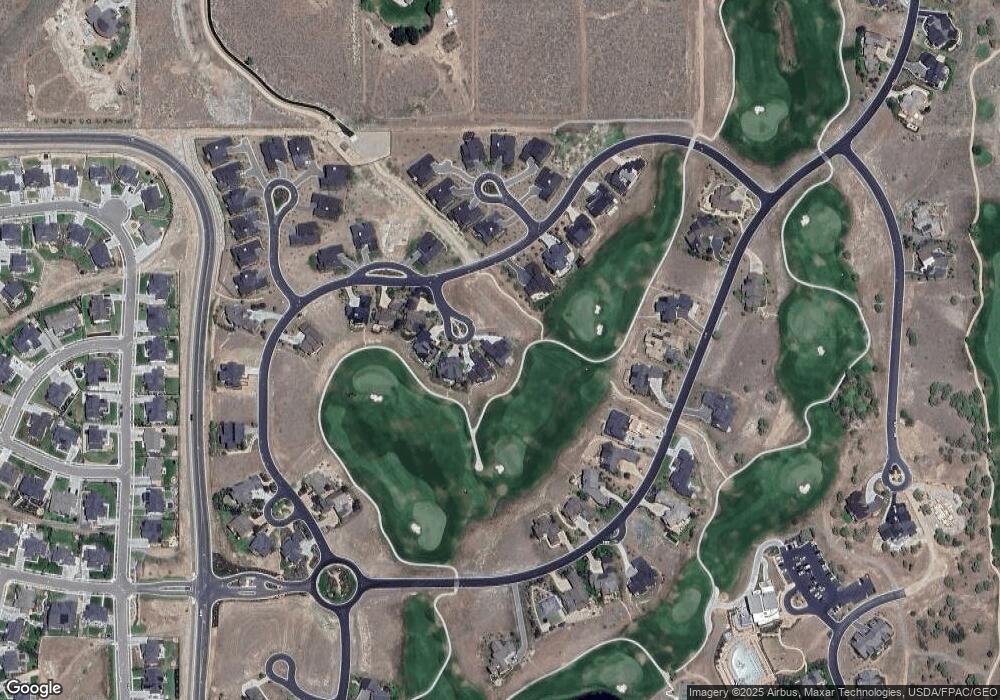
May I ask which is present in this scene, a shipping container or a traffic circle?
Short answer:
traffic circle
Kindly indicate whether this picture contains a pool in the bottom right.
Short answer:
Yes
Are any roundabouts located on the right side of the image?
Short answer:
No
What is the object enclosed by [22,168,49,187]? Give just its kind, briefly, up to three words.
house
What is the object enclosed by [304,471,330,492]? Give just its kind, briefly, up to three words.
house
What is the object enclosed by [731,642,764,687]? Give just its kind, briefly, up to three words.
swimming pool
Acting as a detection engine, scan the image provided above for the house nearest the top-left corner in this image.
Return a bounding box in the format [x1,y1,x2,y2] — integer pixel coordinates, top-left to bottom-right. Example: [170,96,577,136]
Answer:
[85,5,122,37]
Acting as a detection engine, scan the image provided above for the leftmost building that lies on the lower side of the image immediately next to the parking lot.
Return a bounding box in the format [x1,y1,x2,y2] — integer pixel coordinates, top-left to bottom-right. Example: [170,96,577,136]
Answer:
[751,581,780,625]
